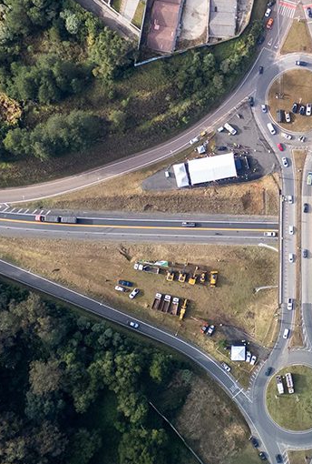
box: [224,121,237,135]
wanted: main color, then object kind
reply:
white vehicle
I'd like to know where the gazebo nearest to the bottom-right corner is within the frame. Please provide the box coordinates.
[231,345,246,359]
